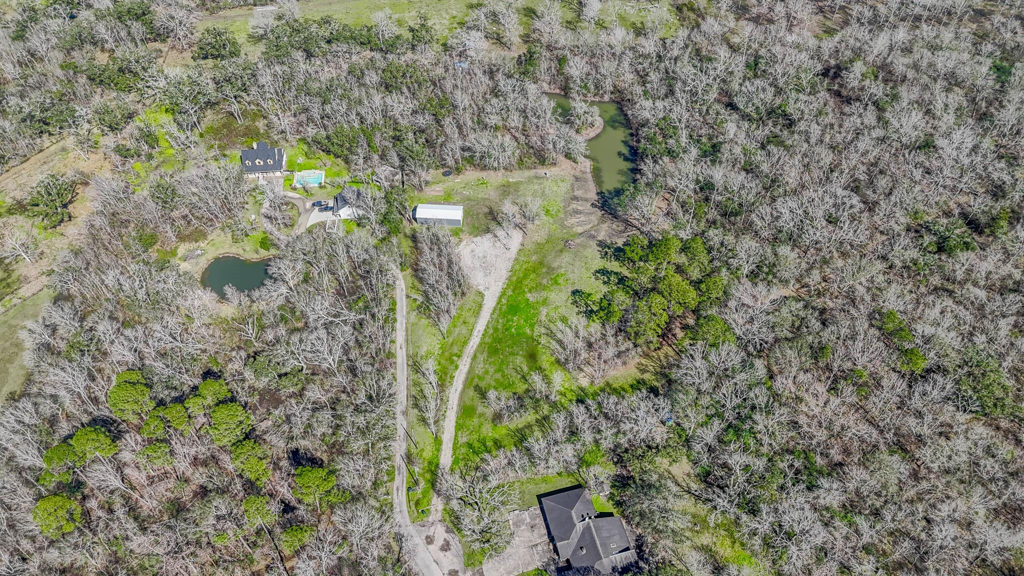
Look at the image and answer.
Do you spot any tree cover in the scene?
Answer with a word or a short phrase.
Yes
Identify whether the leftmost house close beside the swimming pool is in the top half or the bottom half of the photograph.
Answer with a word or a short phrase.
top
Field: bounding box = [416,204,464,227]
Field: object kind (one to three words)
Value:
shed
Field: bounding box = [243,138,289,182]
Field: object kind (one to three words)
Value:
house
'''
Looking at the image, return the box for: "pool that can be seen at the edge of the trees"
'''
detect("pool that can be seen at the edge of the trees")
[293,171,326,188]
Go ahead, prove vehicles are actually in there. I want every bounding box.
[311,199,329,207]
[316,204,334,212]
